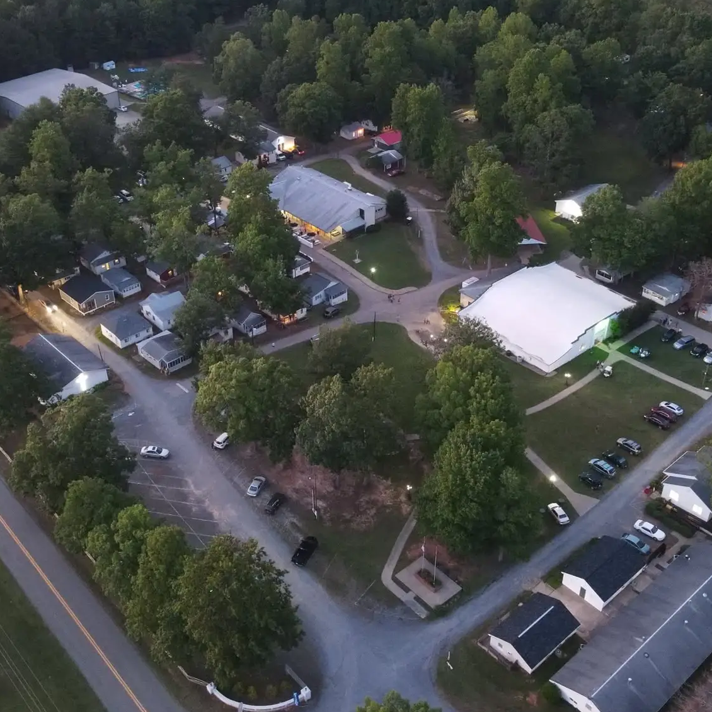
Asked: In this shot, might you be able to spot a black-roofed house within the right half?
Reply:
Yes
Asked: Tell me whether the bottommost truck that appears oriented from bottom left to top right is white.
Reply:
No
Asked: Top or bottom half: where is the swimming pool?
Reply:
top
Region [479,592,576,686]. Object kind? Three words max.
house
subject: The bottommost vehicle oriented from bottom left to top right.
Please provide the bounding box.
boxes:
[289,533,321,569]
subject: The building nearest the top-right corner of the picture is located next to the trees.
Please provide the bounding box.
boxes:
[554,181,605,223]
